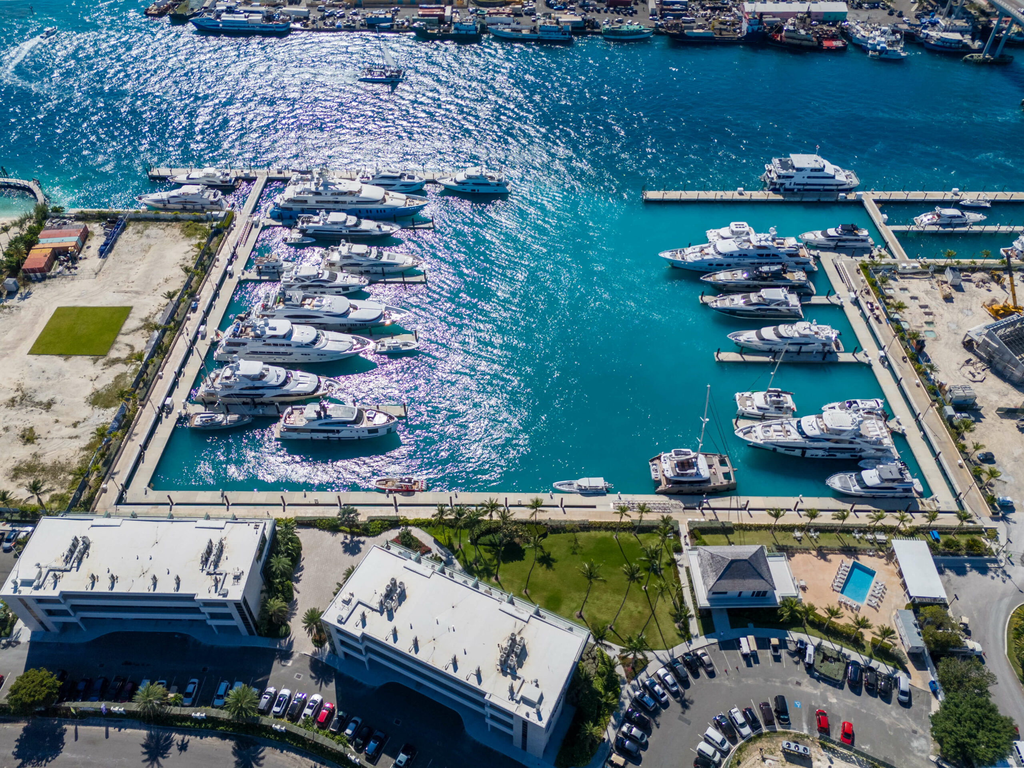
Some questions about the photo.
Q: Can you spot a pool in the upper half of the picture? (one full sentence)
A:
No, I can find no pool in the upper half of the picture.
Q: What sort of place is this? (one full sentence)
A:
The picture captures a port.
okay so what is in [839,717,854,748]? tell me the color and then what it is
red car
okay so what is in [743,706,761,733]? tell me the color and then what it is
black car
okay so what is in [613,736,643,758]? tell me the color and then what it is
black car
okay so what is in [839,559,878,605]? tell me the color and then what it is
blue swimming pool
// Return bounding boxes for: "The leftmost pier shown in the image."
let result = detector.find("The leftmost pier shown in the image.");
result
[0,177,49,206]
